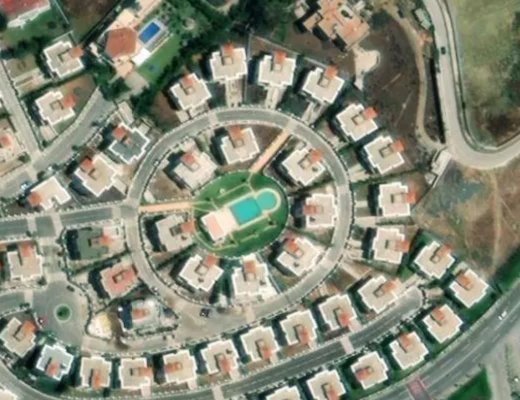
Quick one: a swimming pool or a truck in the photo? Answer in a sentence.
Of the two, only a swimming pool appears.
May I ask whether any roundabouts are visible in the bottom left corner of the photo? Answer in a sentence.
Yes, a roundabout is visible in the bottom left corner of the photo.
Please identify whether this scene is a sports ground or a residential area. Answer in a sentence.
The area seen from above is a residential area.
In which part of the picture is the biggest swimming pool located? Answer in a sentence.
The biggest swimming pool sits in the center section of the image.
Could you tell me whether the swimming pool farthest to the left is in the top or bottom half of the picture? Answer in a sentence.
You can find the swimming pool farthest to the left in the top half.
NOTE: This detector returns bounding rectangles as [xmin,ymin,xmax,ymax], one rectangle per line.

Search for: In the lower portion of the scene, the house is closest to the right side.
[449,266,495,312]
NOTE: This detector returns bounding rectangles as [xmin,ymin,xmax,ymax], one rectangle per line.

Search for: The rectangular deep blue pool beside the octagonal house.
[136,17,165,48]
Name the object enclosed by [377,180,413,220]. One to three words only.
house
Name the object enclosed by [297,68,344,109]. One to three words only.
house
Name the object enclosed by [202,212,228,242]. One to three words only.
building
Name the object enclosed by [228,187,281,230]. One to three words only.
swimming pool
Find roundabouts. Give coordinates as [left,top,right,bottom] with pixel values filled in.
[32,277,88,351]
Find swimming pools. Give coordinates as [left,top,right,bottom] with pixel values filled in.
[228,187,281,230]
[136,17,165,48]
